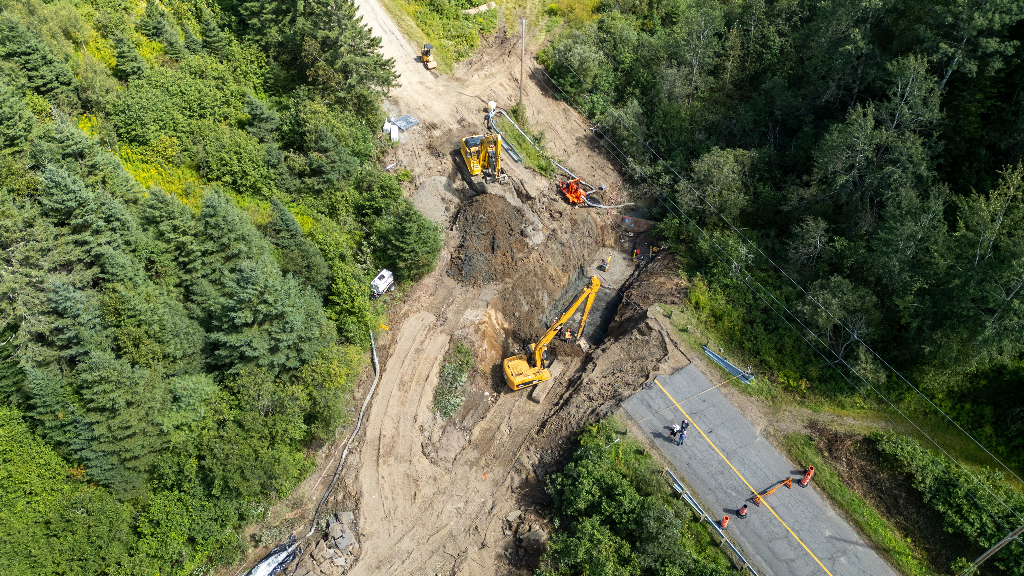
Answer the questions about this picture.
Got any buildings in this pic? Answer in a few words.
No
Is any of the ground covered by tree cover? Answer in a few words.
Yes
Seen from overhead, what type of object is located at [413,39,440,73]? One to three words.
work vehicle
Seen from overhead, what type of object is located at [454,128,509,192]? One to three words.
work vehicle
